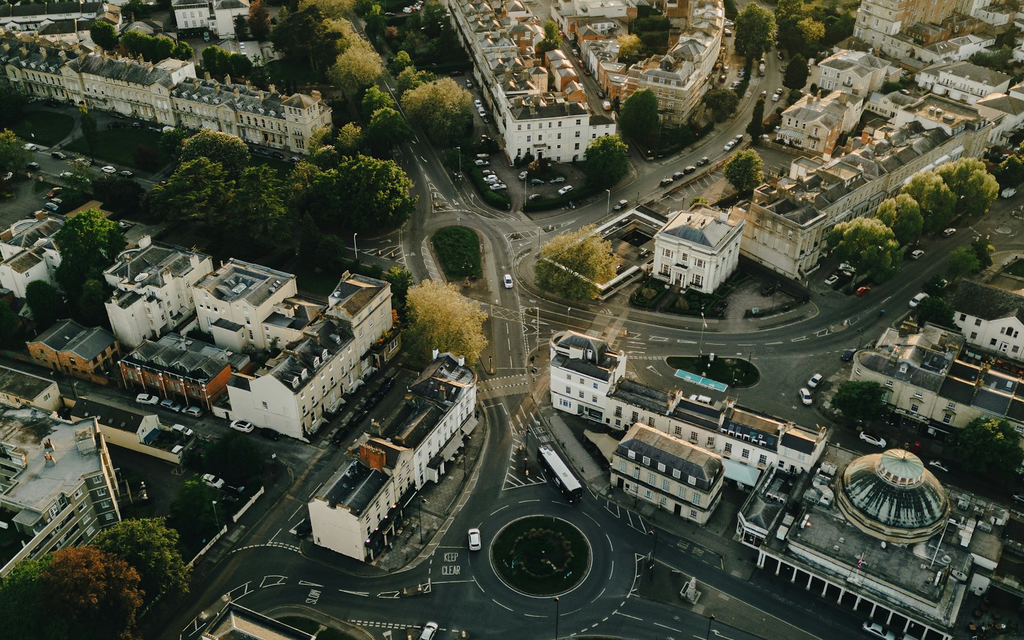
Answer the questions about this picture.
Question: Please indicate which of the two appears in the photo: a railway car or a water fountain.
water fountain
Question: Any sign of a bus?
Yes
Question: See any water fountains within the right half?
Yes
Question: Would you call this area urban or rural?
urban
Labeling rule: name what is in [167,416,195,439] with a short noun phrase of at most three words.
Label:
vehicle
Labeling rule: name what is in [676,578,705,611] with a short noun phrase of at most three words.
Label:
fountain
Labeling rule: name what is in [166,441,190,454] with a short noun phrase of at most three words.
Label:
vehicle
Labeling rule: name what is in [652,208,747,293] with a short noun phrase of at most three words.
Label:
house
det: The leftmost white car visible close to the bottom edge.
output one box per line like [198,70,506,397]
[419,619,439,640]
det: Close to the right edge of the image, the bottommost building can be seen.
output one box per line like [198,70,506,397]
[757,449,1024,640]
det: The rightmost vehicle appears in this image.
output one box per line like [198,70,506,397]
[1000,186,1016,198]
